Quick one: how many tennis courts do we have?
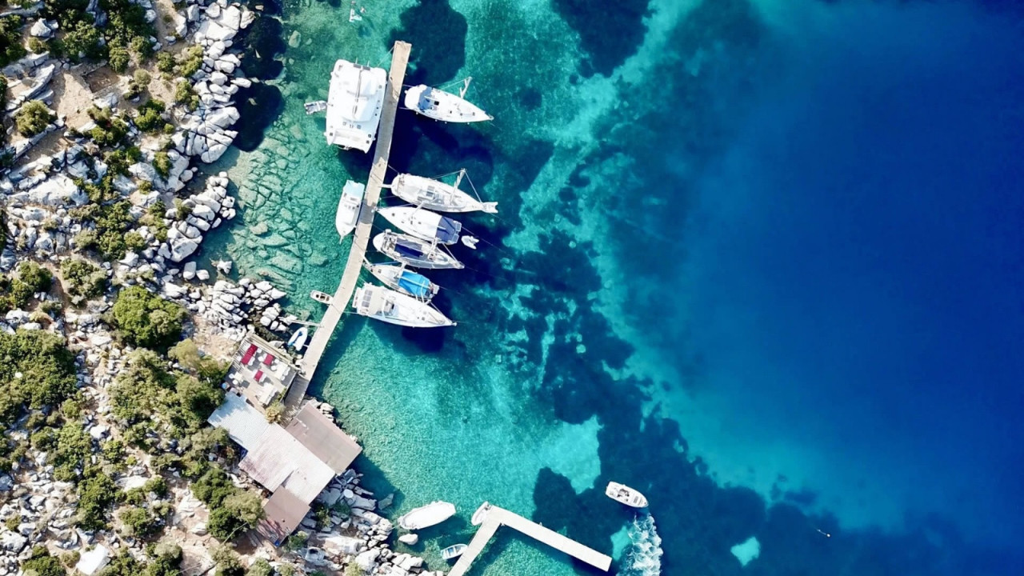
0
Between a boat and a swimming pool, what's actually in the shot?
boat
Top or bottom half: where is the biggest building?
bottom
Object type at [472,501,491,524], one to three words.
boat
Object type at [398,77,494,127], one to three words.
boat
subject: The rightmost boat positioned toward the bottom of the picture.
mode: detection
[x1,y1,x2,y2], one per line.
[604,483,646,508]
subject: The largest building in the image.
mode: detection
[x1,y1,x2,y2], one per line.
[208,392,361,547]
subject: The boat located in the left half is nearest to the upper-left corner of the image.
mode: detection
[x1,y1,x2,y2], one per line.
[304,100,327,113]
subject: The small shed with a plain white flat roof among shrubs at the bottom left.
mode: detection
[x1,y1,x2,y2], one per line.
[76,543,109,575]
